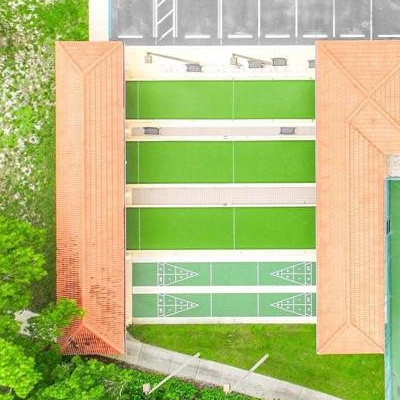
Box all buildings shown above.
[55,41,127,356]
[315,40,400,355]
